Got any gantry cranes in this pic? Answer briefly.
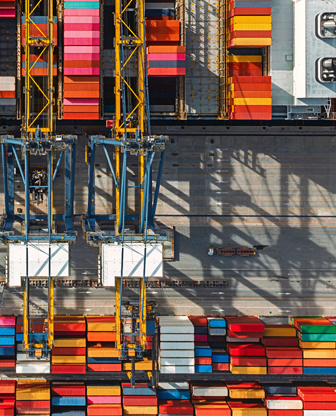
Yes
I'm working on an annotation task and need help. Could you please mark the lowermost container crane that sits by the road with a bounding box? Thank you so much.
[123,311,157,391]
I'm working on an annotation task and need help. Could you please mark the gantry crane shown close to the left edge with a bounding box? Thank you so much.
[0,0,81,358]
